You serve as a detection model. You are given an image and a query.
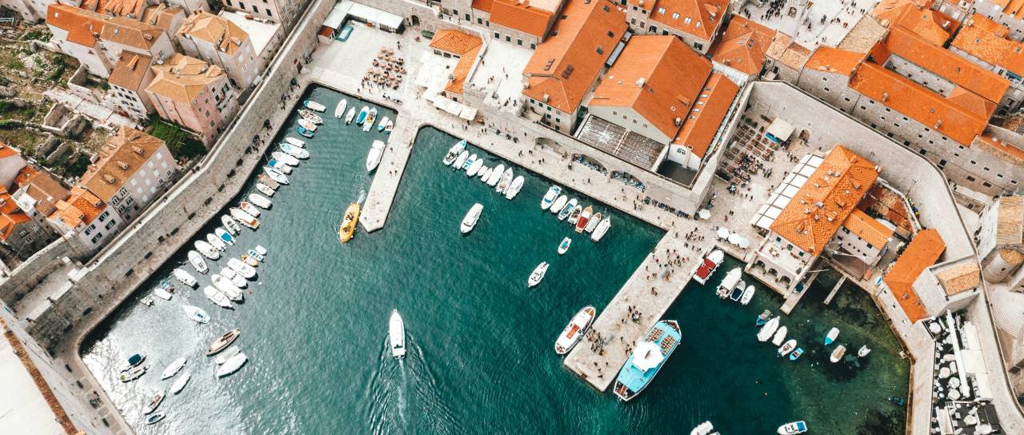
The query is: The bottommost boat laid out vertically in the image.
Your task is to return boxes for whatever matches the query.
[388,307,406,361]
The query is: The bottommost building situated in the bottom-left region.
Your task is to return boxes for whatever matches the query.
[0,307,109,435]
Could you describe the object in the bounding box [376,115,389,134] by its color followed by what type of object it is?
white boat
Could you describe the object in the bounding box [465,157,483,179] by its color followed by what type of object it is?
white boat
